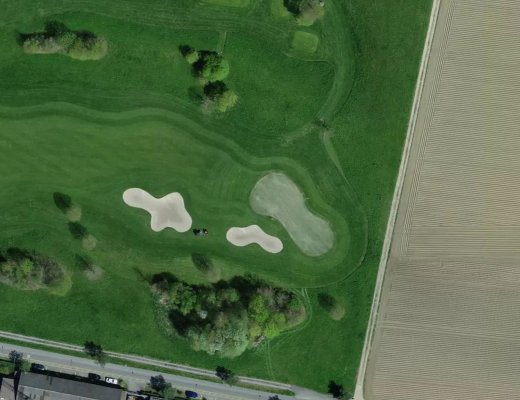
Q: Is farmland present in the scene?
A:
Yes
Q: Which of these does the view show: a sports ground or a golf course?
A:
golf course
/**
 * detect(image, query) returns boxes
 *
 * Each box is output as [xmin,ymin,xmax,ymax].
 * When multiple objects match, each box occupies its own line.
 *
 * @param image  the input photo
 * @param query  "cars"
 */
[106,379,117,385]
[32,364,44,371]
[89,374,100,380]
[185,391,197,398]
